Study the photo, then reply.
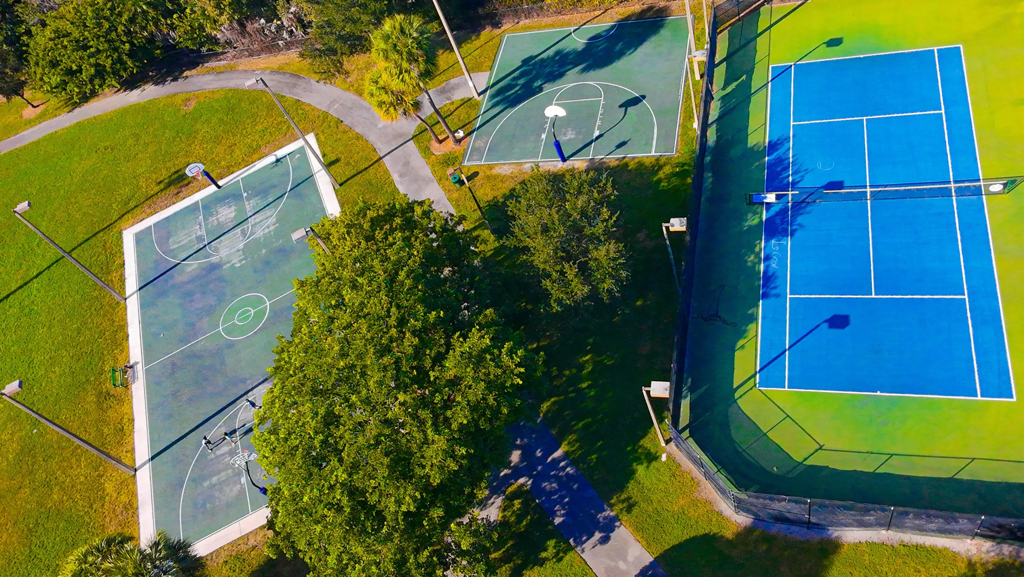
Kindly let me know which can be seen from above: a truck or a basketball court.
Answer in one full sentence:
The one in the frame is a basketball court.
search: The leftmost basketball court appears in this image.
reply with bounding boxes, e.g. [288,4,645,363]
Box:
[122,131,411,570]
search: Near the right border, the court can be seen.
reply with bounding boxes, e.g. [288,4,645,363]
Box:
[679,0,1024,540]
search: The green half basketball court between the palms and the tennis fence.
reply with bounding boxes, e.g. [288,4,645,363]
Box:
[461,11,700,166]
